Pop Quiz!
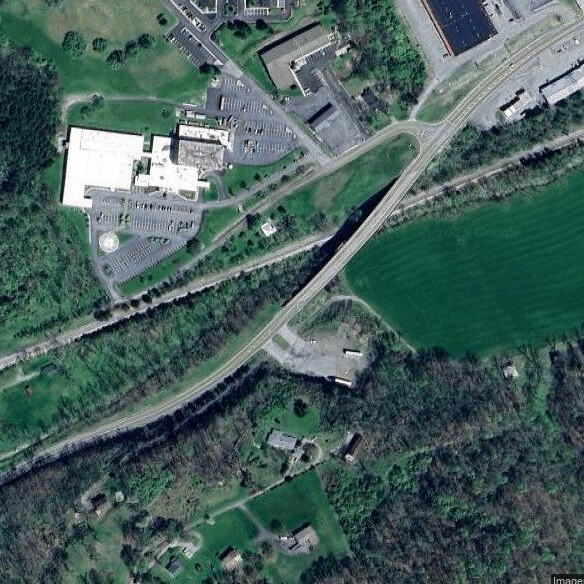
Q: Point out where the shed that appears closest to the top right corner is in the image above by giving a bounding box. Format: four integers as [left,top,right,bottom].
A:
[542,63,584,105]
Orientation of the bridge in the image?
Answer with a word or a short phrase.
diagonally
